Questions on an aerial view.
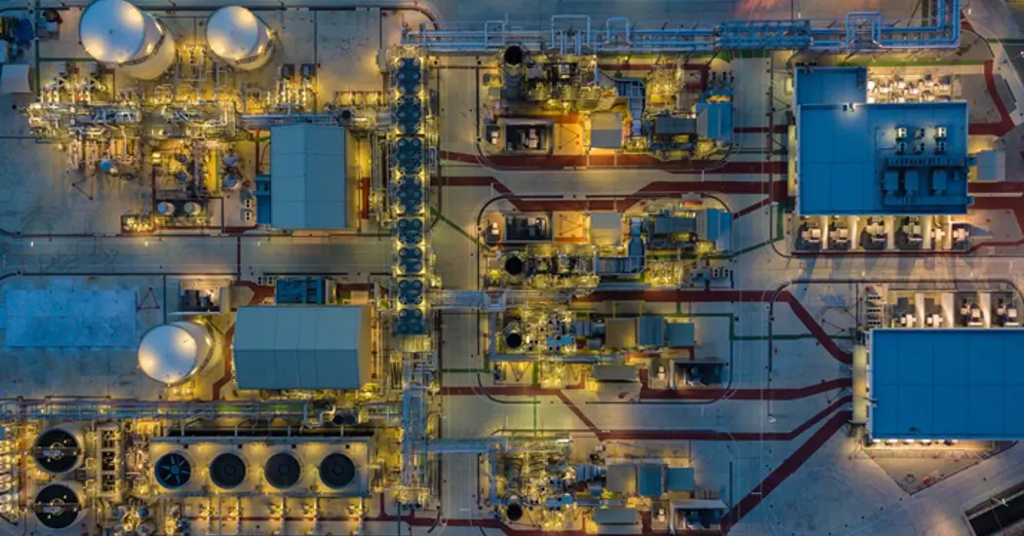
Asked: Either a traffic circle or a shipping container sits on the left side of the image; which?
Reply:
shipping container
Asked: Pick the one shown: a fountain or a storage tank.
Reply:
storage tank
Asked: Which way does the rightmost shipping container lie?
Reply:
from side to side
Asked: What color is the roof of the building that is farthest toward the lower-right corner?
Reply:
blue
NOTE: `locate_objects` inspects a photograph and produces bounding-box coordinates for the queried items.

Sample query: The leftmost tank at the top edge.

[79,0,180,83]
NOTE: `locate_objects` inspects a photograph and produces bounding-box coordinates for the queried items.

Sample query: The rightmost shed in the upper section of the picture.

[969,151,1005,182]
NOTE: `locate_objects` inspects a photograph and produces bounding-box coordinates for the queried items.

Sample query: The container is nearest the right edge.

[277,278,339,303]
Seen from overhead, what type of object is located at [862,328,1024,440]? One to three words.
building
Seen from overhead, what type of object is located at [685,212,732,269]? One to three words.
house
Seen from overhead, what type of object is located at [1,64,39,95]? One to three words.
shed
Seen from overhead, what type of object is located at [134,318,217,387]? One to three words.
storage tank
